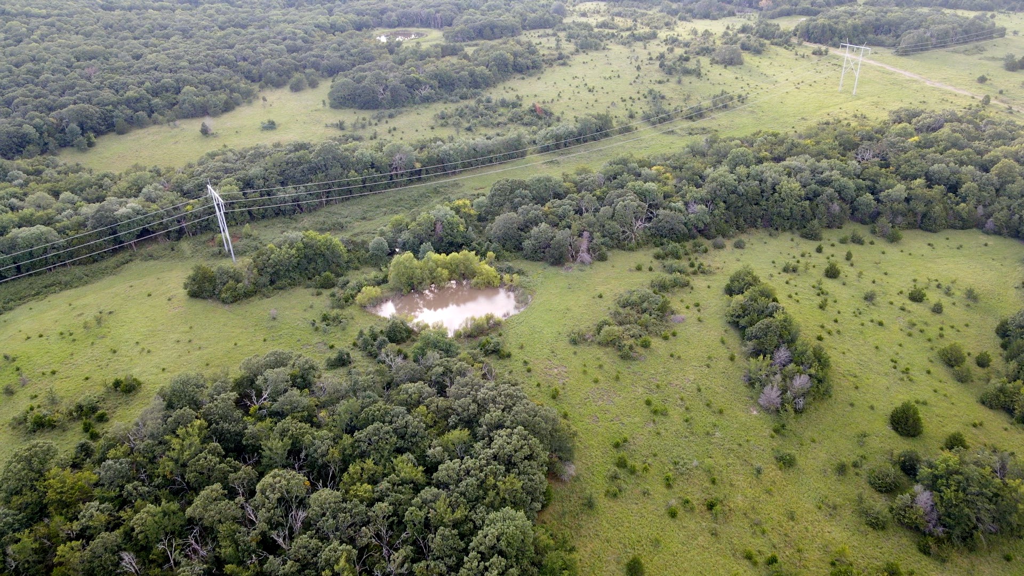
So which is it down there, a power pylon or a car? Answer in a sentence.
Looking from above, you can make out a power pylon.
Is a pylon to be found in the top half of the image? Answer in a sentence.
Yes, you'll find a pylon in the top half of the image.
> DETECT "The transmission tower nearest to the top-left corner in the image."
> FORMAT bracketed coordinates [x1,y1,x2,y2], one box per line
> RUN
[205,178,236,261]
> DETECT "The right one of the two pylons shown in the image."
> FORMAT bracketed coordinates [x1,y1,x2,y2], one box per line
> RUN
[839,38,872,94]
